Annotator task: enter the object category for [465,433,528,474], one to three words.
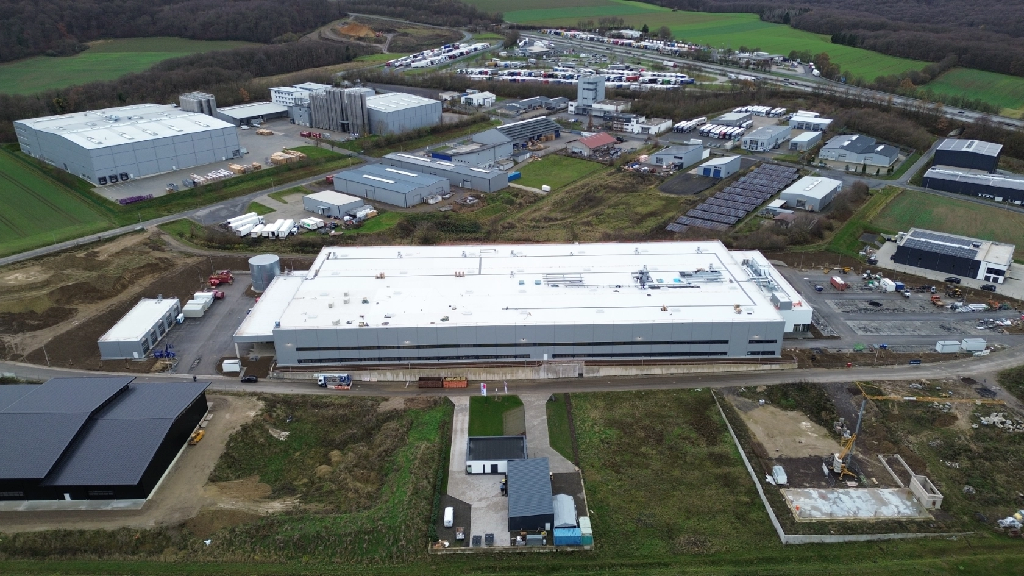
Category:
house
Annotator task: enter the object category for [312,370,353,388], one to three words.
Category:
vehicle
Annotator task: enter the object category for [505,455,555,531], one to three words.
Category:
building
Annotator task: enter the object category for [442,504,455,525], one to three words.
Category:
vehicle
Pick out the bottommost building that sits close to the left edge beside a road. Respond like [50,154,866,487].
[0,376,212,503]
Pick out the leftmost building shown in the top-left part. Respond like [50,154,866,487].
[0,109,240,186]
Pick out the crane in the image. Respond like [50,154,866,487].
[827,382,1007,485]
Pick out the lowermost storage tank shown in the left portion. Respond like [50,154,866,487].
[247,251,282,290]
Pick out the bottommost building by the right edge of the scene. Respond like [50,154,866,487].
[891,227,1018,284]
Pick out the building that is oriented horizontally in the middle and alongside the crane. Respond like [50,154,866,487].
[234,238,813,366]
